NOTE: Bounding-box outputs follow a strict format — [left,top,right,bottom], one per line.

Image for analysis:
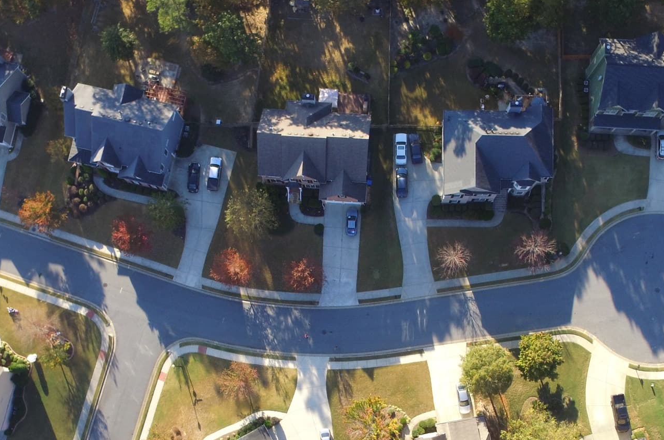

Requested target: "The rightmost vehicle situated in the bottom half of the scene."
[611,394,630,432]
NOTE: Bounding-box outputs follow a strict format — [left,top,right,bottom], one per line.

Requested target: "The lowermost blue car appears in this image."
[345,207,359,238]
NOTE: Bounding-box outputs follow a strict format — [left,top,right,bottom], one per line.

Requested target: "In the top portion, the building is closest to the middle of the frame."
[256,92,372,208]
